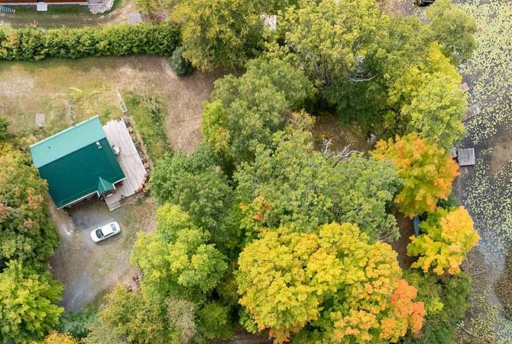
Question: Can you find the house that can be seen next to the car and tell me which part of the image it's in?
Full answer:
You can find the house that can be seen next to the car in the left area of the picture.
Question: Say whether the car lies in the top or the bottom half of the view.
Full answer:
It is in the bottom half that the car appears.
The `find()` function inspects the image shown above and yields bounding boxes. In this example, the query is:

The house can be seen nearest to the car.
[29,115,147,211]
